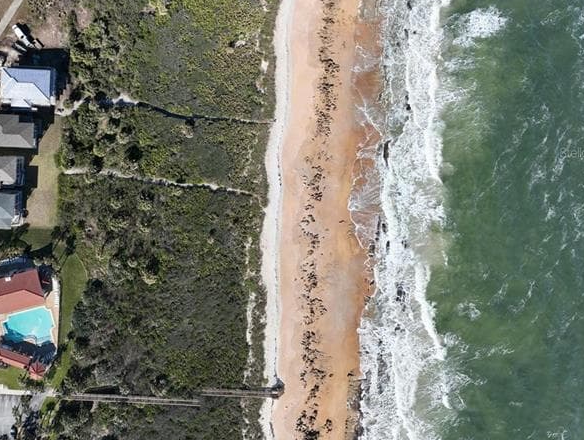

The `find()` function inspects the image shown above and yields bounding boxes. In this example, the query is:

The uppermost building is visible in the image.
[1,68,56,107]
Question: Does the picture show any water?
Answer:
Yes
